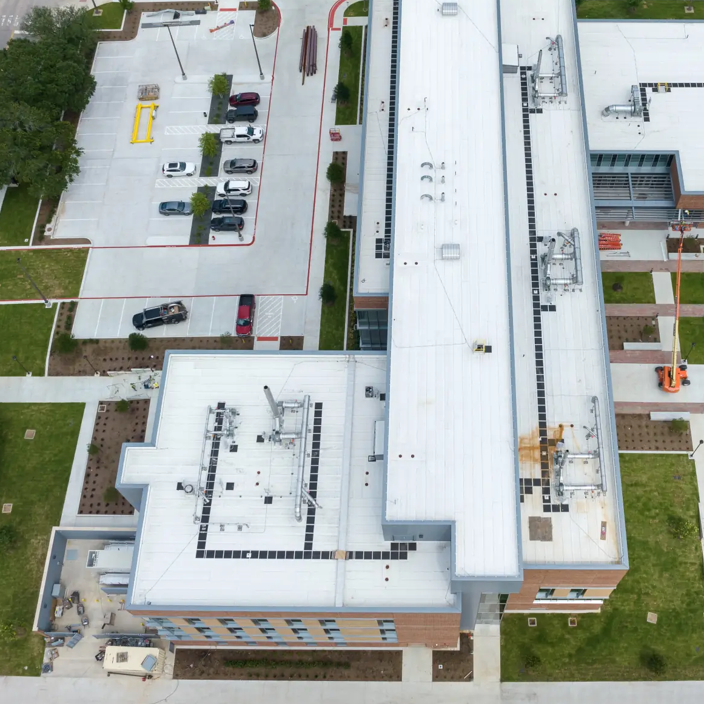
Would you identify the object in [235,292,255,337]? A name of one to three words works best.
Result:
vehicle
